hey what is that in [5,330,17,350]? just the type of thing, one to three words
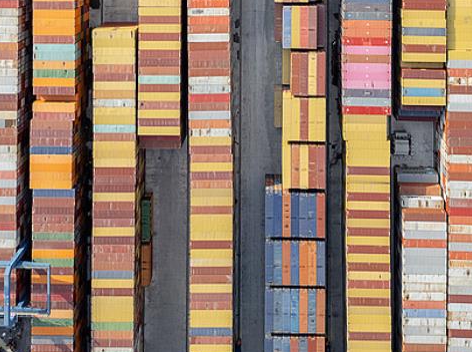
vehicle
